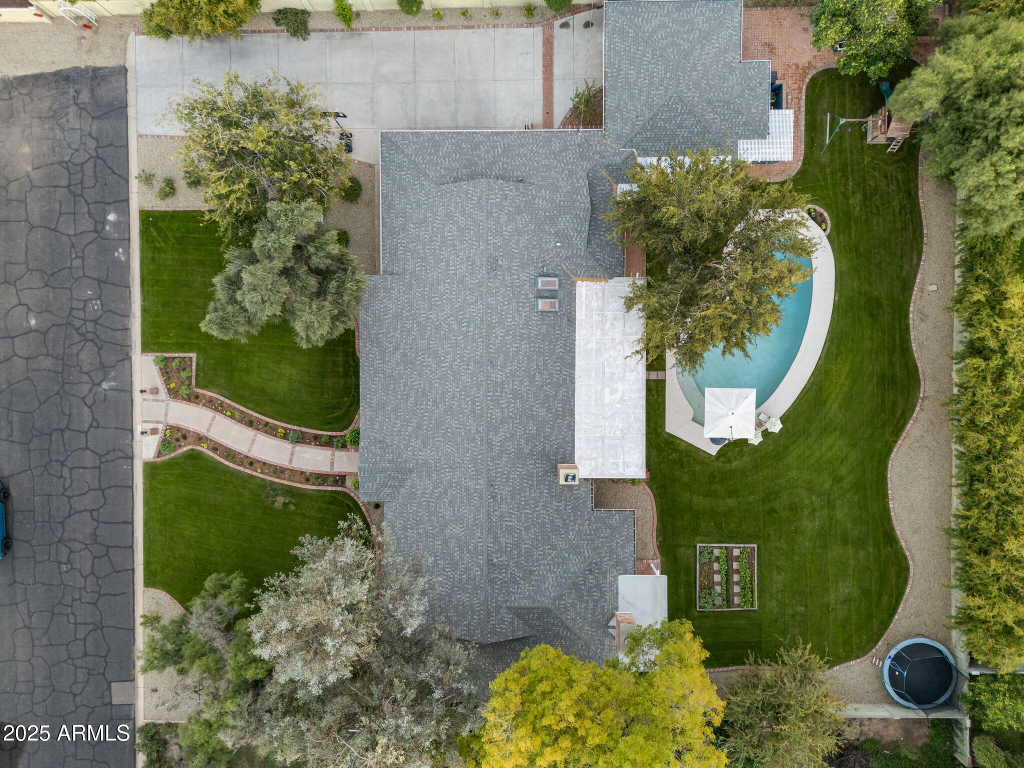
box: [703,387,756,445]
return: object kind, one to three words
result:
umbrella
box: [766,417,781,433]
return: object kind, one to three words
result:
umbrella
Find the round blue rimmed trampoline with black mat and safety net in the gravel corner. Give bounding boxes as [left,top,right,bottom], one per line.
[876,631,966,718]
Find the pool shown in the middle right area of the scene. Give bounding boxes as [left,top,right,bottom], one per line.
[684,226,813,426]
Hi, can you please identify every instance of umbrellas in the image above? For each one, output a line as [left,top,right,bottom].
[703,387,756,445]
[747,429,762,445]
[766,417,781,433]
